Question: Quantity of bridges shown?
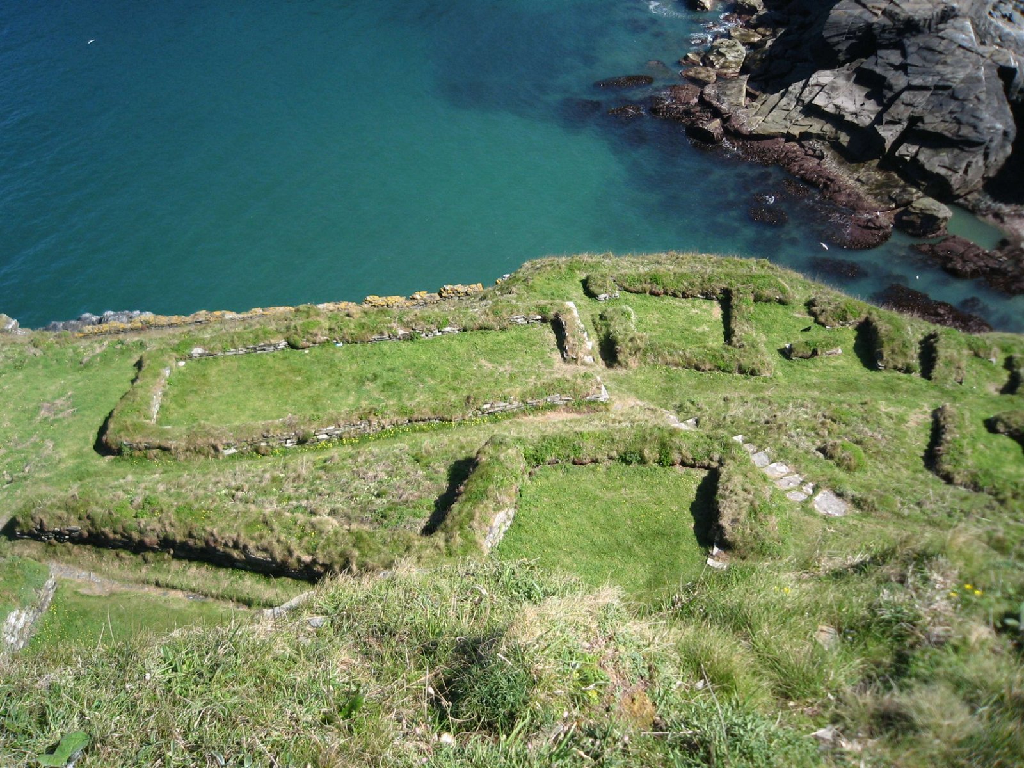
zero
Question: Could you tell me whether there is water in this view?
Yes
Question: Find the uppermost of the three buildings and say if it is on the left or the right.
right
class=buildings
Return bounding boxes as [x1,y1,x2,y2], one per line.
[434,430,775,582]
[586,273,798,385]
[98,303,615,469]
